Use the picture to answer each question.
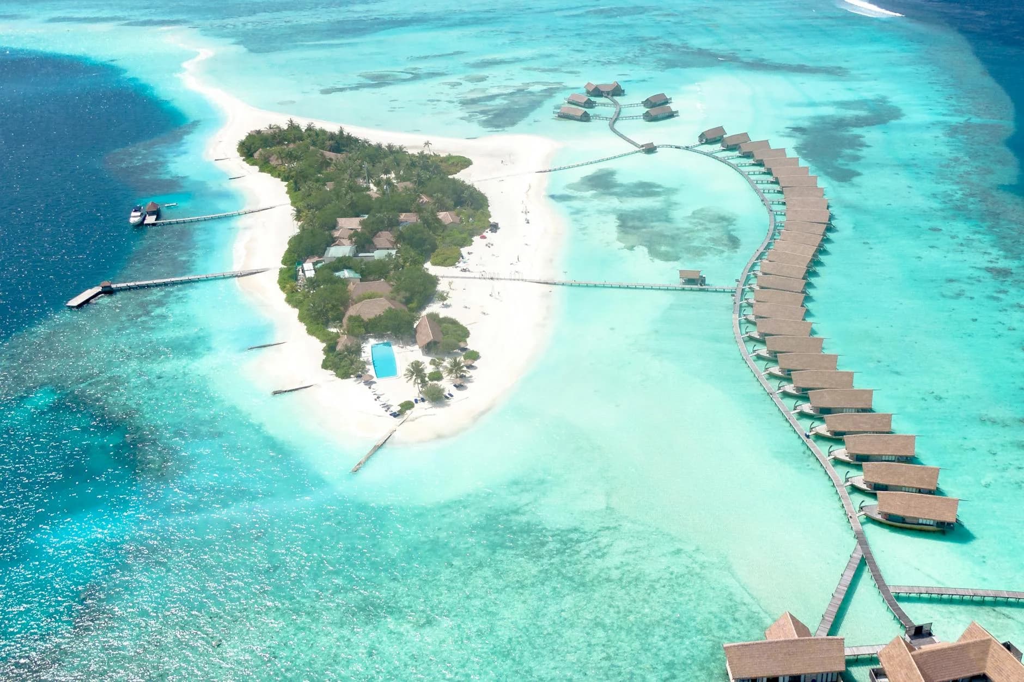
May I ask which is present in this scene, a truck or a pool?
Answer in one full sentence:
Looking from above, you can make out a pool.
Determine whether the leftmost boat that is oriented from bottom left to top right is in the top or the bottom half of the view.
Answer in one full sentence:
Seen from above, the leftmost boat that is oriented from bottom left to top right lies in the top half of the view.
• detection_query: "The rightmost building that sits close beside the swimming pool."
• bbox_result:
[413,316,446,360]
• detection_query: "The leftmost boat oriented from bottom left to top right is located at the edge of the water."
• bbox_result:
[129,198,150,223]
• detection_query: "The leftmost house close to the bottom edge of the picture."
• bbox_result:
[716,611,847,682]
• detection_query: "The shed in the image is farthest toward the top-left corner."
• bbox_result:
[144,202,164,228]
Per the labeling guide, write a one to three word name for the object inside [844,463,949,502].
house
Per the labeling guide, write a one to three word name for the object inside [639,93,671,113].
house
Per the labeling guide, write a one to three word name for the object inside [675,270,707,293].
building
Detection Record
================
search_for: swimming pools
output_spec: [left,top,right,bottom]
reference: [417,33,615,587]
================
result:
[369,341,400,381]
